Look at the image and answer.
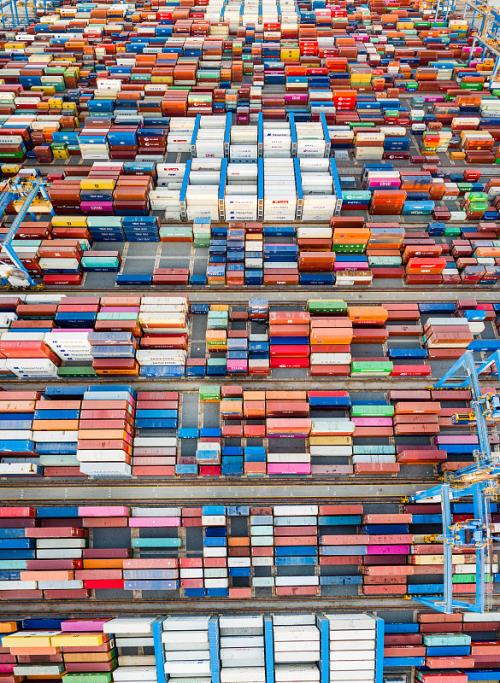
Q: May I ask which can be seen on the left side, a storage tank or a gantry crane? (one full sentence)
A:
You can see a gantry crane on the left side.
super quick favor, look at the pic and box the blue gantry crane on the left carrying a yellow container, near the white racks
[0,179,57,292]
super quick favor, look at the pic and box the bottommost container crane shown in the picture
[400,490,500,627]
